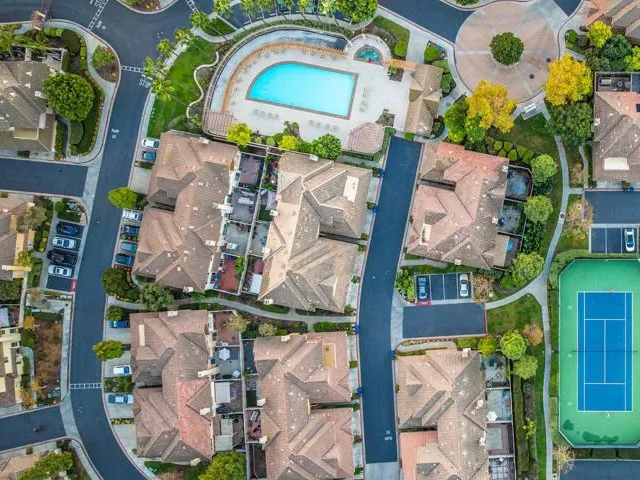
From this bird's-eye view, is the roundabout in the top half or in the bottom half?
top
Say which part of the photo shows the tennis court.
bottom right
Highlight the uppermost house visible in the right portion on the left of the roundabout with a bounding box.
[403,64,442,138]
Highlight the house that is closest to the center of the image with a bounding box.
[254,152,374,312]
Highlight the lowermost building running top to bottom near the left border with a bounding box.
[0,325,37,405]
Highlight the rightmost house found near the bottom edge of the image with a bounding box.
[399,345,492,480]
